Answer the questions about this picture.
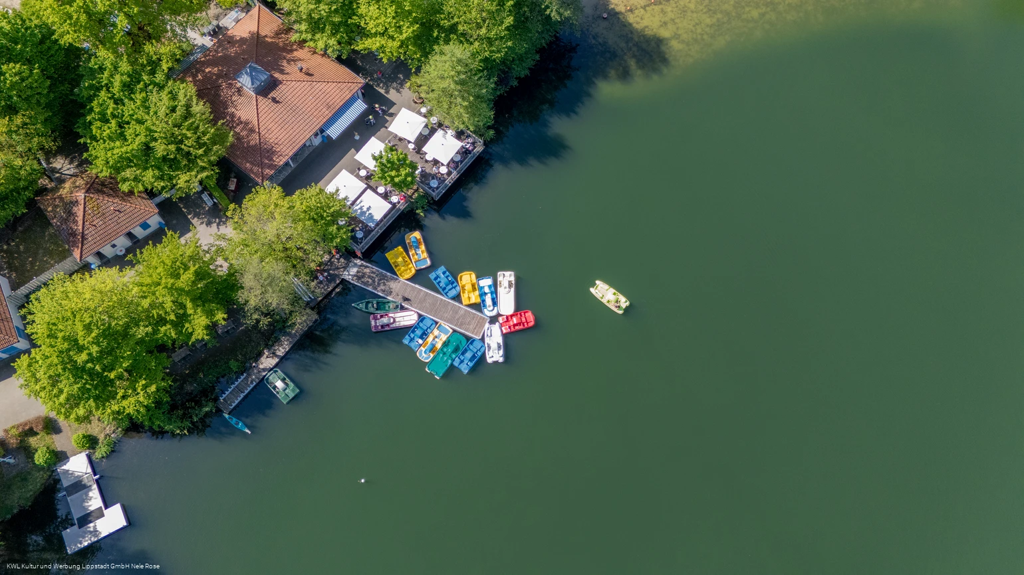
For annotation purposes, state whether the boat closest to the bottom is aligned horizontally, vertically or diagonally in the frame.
diagonally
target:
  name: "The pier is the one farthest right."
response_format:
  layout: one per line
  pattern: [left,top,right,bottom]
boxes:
[344,259,491,340]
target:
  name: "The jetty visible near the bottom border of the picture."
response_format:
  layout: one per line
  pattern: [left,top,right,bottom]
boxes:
[53,452,132,554]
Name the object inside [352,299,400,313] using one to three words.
boat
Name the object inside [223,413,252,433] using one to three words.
boat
